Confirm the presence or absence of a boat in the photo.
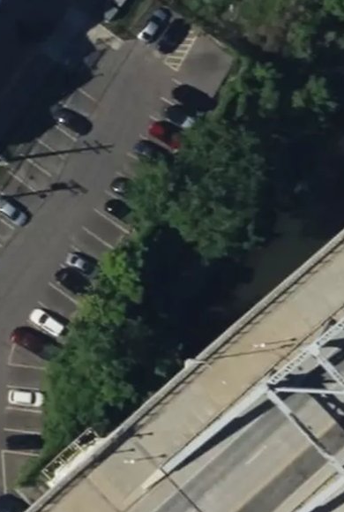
No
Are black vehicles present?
Yes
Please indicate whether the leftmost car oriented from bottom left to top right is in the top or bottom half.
top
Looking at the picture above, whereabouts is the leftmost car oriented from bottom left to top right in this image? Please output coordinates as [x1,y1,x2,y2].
[137,9,169,45]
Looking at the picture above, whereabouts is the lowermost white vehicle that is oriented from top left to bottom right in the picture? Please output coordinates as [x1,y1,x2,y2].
[30,308,68,337]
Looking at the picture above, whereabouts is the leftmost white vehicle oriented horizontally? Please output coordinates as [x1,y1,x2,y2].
[8,389,44,406]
